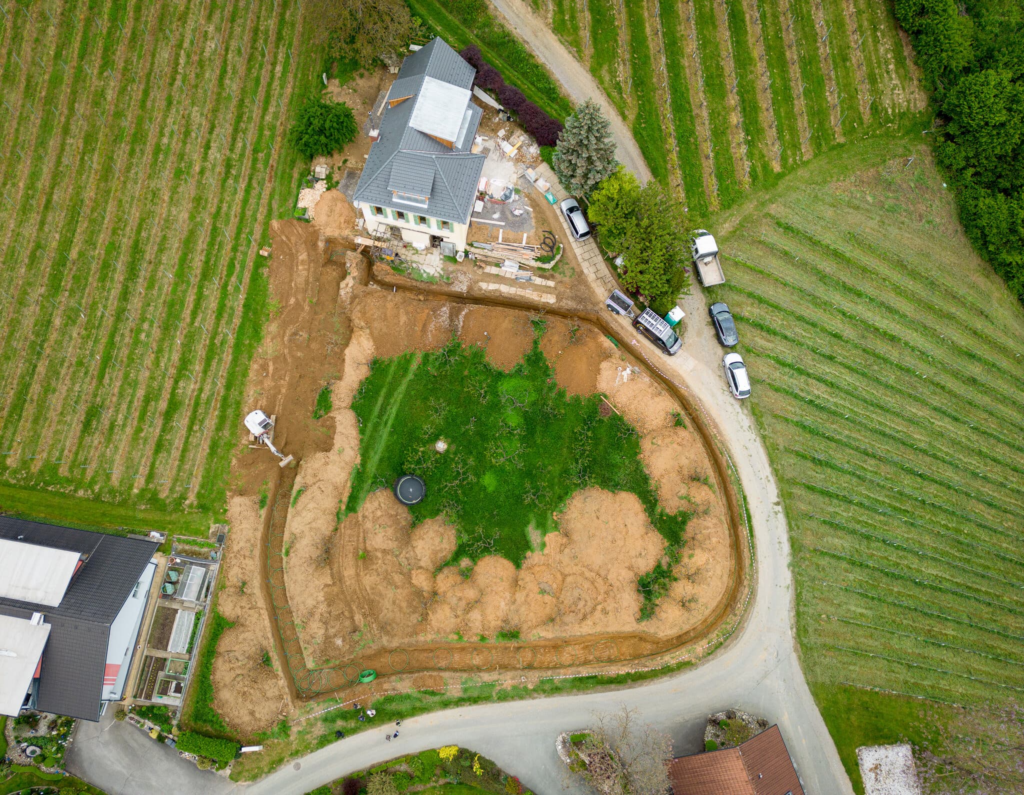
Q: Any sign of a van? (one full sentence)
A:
Yes, a van can be made out from above.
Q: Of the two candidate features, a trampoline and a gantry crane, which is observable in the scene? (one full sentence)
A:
The image shows a trampoline.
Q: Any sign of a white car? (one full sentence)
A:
Yes, there's a white car here.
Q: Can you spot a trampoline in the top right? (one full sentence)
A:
No, there's no trampoline to be seen in the top right.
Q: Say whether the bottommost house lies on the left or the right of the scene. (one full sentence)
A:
The bottommost house appears in the right half of the scene.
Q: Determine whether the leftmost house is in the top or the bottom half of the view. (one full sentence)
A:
Seen from above, the leftmost house lies in the bottom half of the view.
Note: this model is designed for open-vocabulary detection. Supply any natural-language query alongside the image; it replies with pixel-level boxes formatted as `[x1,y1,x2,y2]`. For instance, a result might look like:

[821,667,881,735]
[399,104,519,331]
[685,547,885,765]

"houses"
[0,513,163,722]
[673,720,805,795]
[349,34,486,254]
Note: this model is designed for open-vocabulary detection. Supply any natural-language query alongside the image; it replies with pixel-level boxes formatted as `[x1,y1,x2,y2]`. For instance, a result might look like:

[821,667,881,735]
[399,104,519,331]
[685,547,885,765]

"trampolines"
[393,473,426,505]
